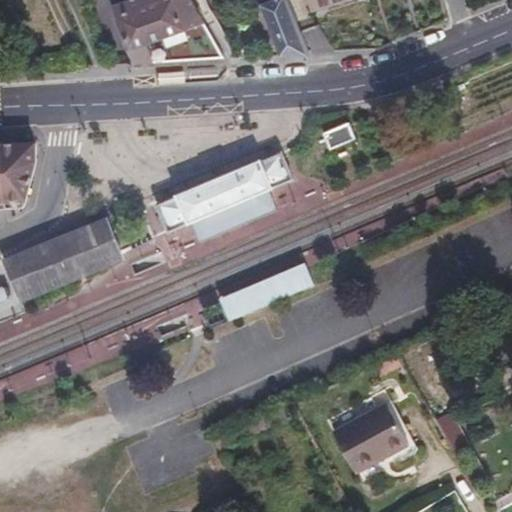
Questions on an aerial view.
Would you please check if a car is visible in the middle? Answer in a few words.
No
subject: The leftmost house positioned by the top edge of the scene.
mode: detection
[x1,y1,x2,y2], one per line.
[114,0,224,66]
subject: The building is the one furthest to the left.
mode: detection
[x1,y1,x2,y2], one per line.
[0,142,40,214]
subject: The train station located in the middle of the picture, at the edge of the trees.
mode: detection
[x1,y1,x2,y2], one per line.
[0,114,512,402]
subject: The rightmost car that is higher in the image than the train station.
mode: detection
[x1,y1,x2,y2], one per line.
[422,30,446,46]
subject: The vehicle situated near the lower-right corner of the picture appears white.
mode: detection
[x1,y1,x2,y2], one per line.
[457,480,474,502]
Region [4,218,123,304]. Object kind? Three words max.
building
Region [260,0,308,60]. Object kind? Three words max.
house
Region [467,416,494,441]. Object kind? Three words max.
shed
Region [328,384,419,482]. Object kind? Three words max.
house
